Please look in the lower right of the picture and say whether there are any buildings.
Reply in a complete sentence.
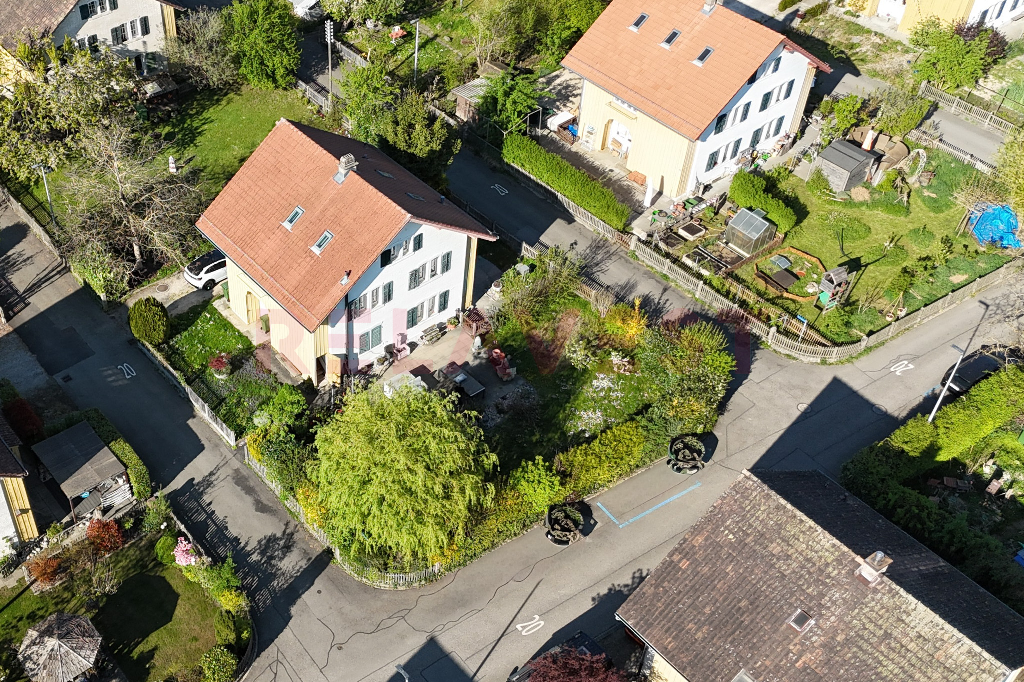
Yes, in the lower right of the picture there is a building.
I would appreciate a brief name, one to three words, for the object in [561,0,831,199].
house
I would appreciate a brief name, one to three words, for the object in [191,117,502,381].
house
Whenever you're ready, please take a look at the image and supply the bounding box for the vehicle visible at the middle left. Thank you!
[186,250,224,289]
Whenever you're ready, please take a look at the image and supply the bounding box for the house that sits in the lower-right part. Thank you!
[617,465,1024,682]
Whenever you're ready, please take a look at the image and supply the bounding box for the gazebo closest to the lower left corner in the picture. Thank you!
[1,607,108,682]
